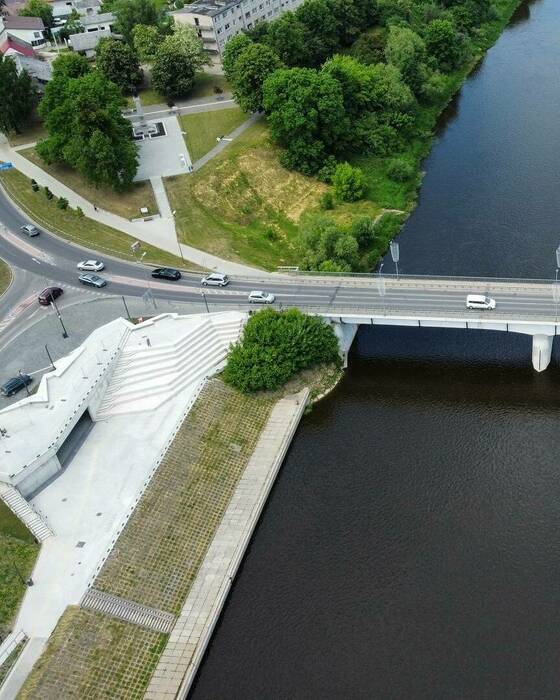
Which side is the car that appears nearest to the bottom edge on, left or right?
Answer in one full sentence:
You can find the car that appears nearest to the bottom edge on the left side of the picture.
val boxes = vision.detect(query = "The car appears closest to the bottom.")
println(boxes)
[0,375,34,395]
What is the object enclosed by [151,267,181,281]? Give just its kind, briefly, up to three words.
vehicle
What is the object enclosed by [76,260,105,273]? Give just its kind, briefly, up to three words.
vehicle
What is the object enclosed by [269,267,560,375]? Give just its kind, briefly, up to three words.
bridge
